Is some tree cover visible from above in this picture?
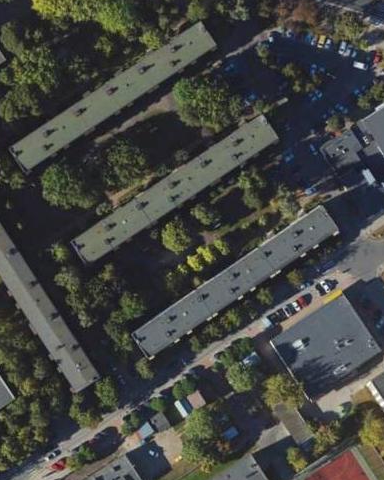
Yes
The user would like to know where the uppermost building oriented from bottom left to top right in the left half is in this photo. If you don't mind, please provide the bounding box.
[8,21,216,172]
